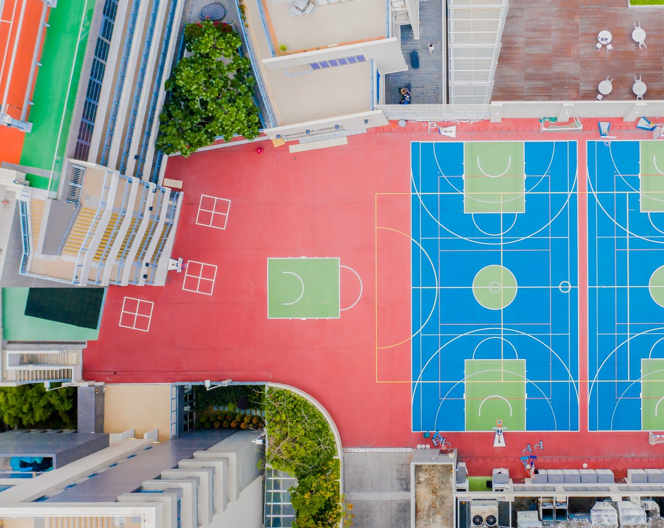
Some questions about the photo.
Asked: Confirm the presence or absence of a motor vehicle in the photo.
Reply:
No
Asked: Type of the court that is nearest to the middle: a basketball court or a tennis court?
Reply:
basketball court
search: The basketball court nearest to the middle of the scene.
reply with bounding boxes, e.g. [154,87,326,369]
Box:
[267,256,363,320]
